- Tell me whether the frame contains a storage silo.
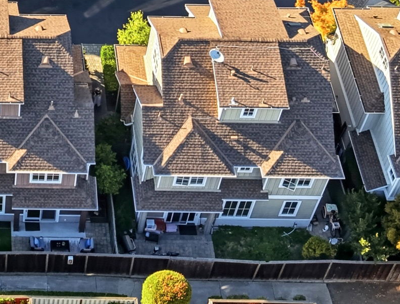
No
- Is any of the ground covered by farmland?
No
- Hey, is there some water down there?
No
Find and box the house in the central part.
[117,1,343,241]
